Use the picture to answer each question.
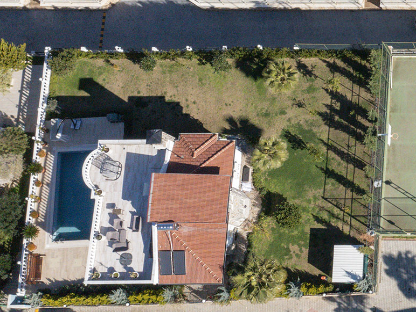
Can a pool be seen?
Yes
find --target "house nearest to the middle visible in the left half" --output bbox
[78,129,253,287]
